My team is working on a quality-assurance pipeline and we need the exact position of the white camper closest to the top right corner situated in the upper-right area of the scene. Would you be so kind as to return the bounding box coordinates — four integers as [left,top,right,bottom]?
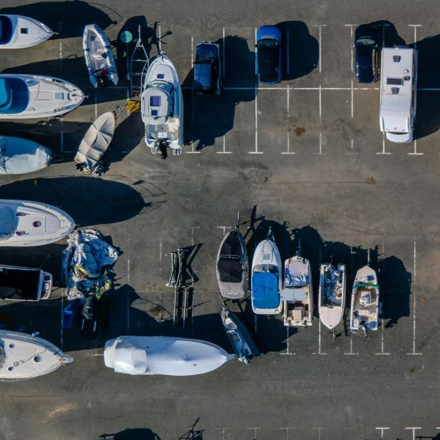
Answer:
[380,45,417,143]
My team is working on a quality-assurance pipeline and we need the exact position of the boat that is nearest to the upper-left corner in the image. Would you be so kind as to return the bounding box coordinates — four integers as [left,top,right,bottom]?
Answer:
[0,14,57,51]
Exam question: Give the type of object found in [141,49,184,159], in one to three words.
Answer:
boat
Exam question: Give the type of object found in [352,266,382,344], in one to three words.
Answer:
boat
